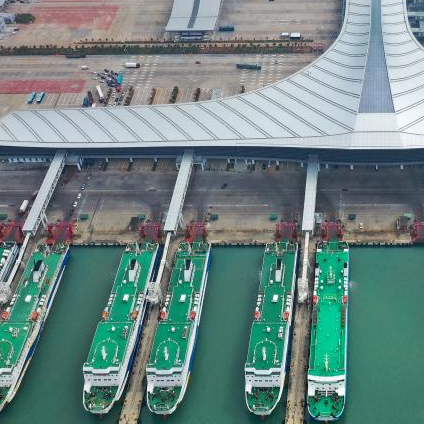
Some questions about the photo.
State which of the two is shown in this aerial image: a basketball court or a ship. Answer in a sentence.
I can see a ship in this picture.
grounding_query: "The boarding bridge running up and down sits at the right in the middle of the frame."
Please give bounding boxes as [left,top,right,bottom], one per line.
[296,160,332,307]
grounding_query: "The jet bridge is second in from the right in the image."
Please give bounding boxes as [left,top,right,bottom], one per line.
[147,155,207,307]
